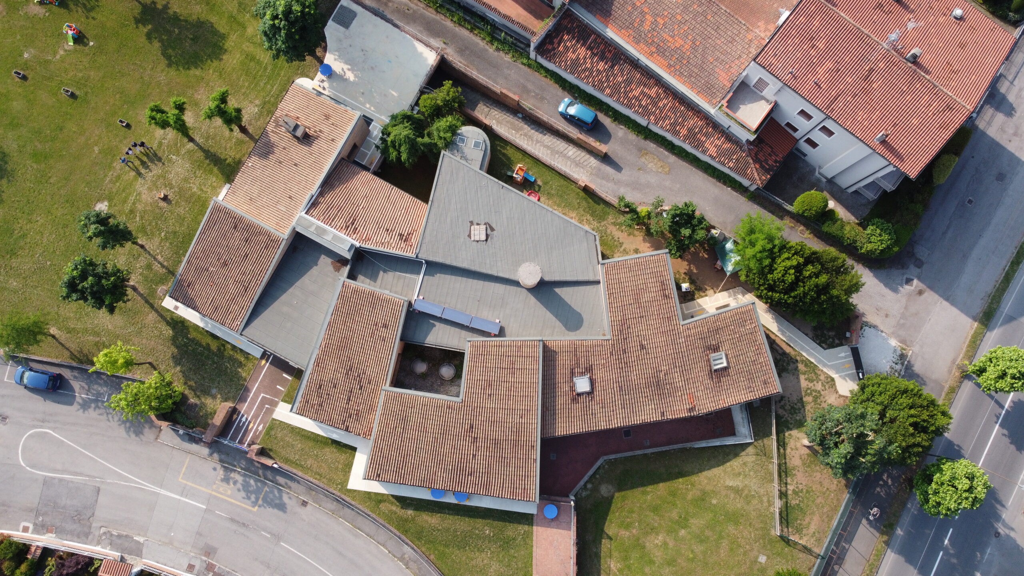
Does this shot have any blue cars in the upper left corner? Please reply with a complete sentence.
No, no blue car is visible in the upper left corner.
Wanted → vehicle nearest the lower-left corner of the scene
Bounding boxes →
[11,368,60,392]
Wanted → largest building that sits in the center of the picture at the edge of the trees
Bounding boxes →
[166,80,785,505]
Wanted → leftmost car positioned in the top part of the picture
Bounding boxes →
[560,98,603,130]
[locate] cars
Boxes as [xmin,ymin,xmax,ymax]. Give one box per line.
[560,98,603,130]
[11,368,60,392]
